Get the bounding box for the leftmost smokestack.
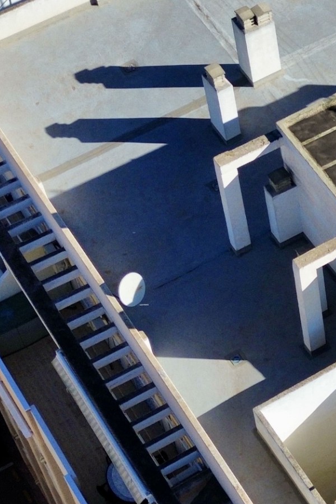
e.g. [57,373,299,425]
[203,61,245,144]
